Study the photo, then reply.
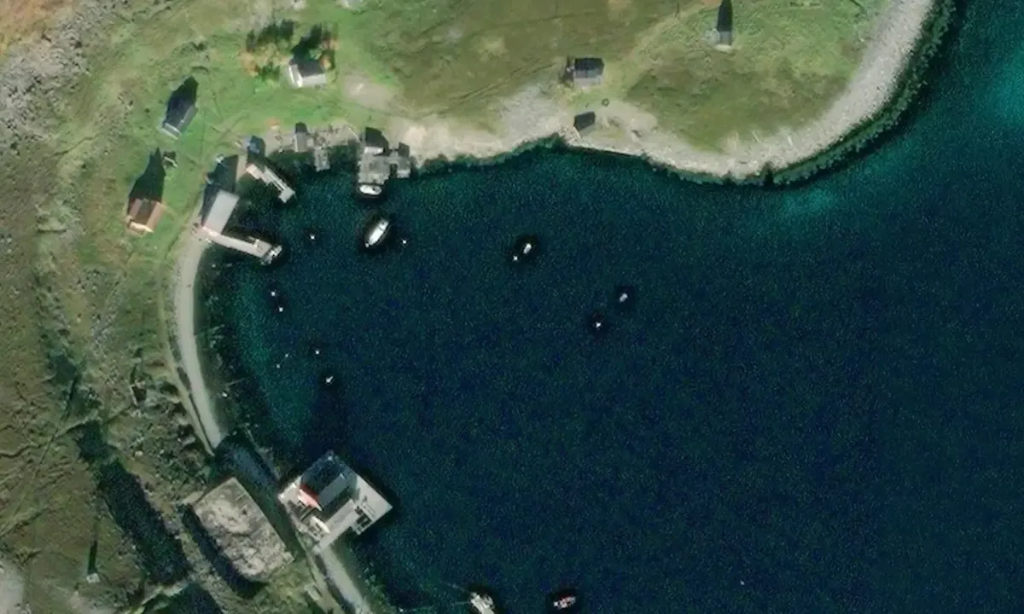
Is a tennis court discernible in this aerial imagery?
No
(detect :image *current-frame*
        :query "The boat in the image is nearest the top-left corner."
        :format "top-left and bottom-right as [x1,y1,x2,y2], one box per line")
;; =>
[262,247,282,264]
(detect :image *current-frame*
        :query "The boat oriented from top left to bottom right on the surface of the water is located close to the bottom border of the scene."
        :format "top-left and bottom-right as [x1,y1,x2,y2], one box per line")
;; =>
[474,592,497,614]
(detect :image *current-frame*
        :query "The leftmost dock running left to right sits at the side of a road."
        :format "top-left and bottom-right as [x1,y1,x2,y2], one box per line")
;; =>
[197,230,272,259]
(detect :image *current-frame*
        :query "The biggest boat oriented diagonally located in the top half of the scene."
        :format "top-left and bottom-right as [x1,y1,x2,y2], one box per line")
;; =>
[368,217,392,244]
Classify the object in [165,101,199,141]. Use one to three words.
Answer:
house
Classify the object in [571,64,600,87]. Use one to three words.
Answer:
building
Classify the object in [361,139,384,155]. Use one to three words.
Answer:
shed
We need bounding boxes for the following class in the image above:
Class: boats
[524,241,533,254]
[557,595,576,606]
[368,217,392,244]
[474,592,497,614]
[360,185,385,194]
[262,247,282,264]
